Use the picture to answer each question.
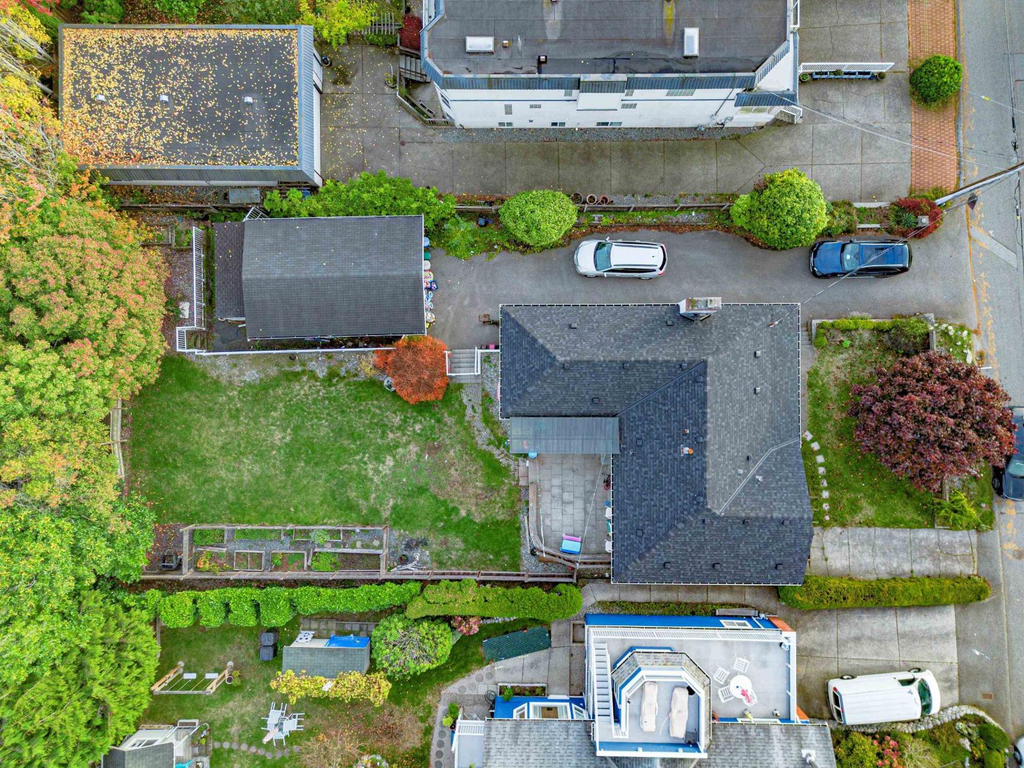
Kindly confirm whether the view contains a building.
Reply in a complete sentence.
Yes, there is a building in the image.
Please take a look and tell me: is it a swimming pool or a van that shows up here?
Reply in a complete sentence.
I can see a van in this picture.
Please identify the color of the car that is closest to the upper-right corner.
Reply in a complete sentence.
In this view, the car that is closest to the upper-right corner is blue.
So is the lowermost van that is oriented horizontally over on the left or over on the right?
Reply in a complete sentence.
The lowermost van that is oriented horizontally sits on the right side.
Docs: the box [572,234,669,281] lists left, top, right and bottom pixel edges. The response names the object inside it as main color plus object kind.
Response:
white car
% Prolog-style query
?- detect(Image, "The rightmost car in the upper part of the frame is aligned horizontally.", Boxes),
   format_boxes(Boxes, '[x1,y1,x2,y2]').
[805,233,914,282]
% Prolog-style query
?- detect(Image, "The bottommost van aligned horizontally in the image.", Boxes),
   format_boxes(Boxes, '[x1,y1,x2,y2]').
[822,666,939,725]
